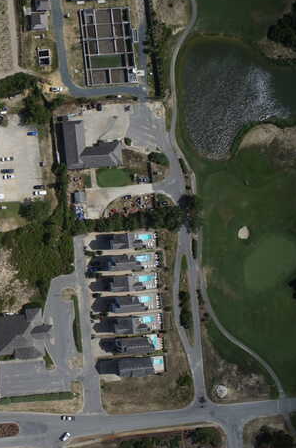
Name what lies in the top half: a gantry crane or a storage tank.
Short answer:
storage tank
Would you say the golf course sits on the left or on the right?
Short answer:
right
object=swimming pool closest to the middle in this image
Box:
[131,232,158,248]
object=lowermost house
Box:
[108,354,157,378]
